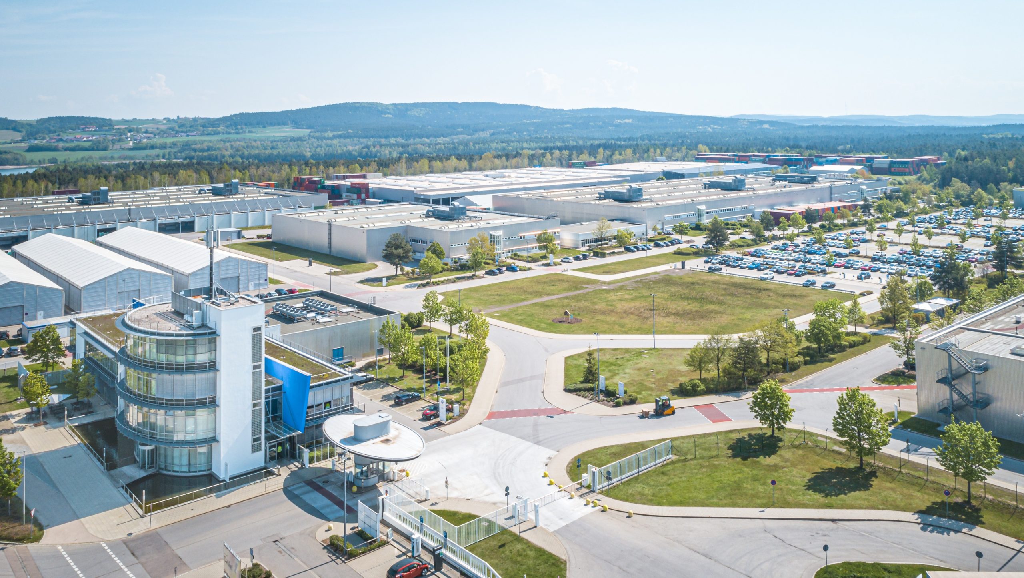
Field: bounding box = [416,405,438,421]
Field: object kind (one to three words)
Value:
car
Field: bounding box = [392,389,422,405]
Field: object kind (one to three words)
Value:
car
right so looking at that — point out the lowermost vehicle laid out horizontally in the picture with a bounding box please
[384,555,431,578]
